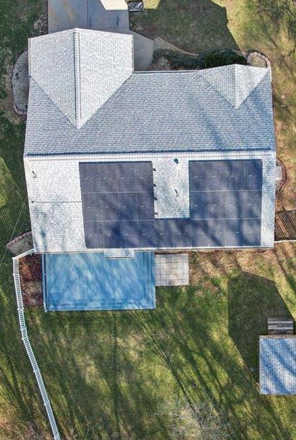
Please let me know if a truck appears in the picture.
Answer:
No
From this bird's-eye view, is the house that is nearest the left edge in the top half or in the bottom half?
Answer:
top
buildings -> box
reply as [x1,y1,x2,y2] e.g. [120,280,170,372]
[258,318,296,395]
[24,28,276,259]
